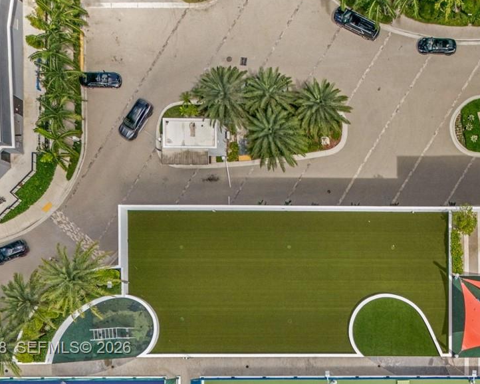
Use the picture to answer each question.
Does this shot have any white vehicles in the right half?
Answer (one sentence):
No, no white vehicle can be made out in the right half.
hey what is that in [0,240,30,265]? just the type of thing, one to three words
car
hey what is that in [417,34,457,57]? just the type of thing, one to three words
car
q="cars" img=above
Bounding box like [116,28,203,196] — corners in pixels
[0,240,30,265]
[121,95,153,140]
[417,34,457,57]
[334,6,380,40]
[79,68,122,90]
